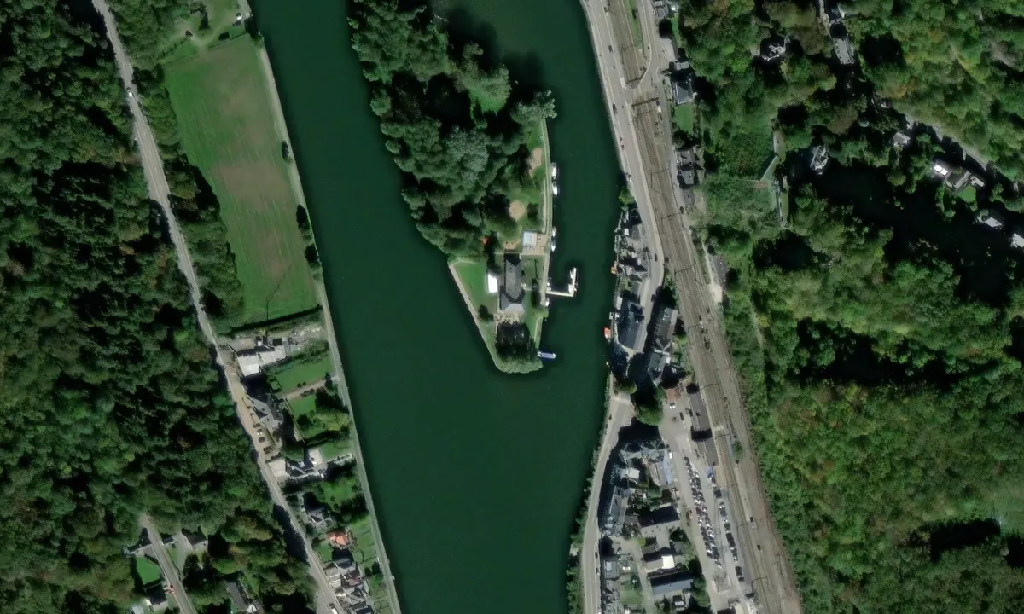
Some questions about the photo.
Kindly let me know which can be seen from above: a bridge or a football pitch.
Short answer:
bridge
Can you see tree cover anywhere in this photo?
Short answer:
Yes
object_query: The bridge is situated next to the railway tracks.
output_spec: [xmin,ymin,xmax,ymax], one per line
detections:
[620,56,666,107]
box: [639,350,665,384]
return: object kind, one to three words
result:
house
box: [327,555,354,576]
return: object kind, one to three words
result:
house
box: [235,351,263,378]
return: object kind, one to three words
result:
barn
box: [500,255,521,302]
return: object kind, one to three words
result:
building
